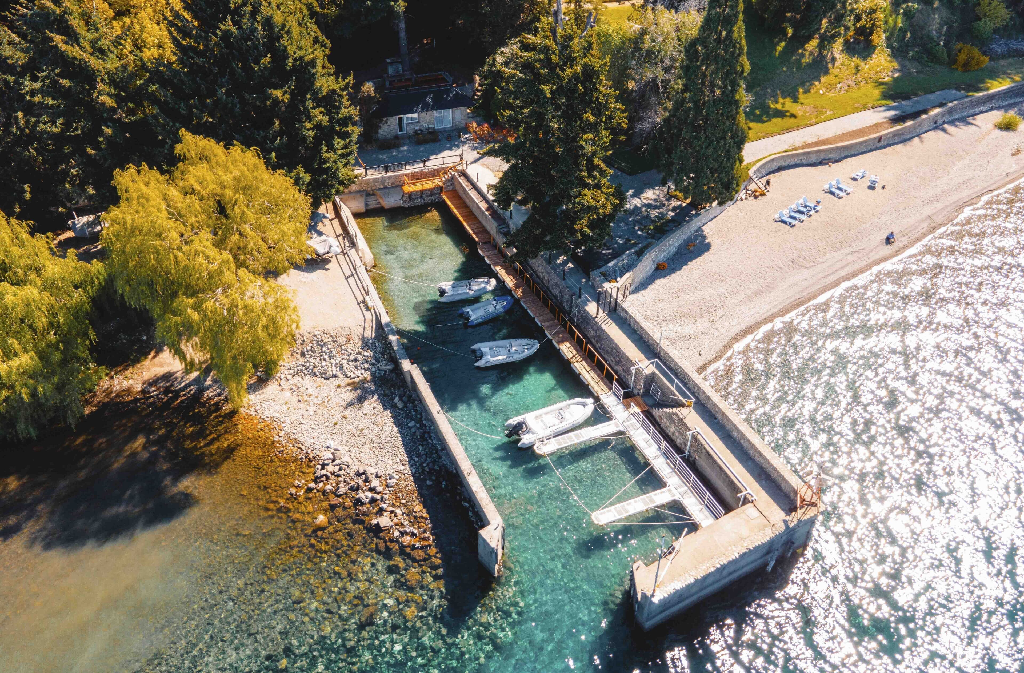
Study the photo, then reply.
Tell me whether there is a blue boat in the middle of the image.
Yes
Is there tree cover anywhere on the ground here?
Yes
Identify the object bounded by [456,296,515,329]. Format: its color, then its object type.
blue boat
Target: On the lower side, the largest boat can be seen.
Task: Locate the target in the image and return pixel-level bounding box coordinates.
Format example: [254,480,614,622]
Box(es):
[499,397,597,450]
